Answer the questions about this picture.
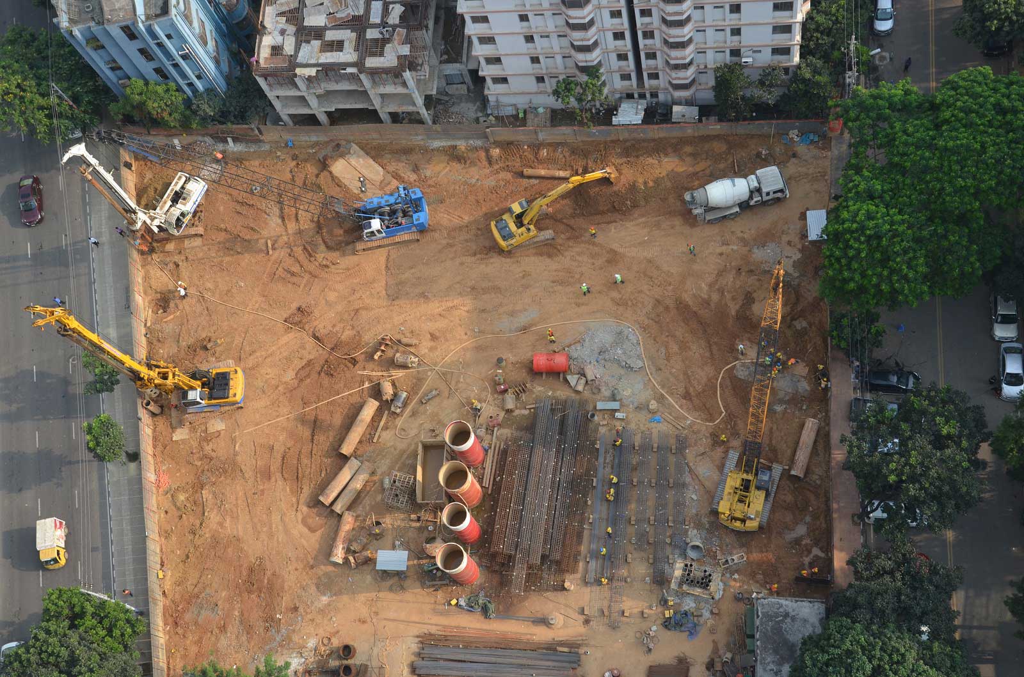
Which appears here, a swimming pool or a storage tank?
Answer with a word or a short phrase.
storage tank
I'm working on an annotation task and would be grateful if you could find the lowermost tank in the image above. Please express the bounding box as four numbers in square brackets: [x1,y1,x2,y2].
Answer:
[436,543,485,587]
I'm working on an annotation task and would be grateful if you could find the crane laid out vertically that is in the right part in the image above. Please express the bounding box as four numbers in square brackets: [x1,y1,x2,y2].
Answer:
[706,257,784,535]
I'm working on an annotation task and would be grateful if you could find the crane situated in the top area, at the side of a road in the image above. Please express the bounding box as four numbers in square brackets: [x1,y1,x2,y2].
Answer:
[78,124,432,255]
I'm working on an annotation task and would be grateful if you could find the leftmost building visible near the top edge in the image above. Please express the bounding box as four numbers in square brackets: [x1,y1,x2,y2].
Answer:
[54,0,268,103]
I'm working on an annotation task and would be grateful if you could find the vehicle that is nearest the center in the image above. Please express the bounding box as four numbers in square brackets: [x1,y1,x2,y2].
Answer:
[485,163,620,259]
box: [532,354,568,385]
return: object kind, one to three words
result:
storage tank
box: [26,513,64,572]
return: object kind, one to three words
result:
truck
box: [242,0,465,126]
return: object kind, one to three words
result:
building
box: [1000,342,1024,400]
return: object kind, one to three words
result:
car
